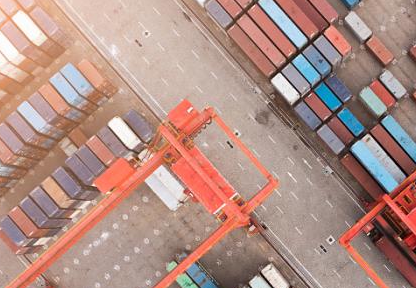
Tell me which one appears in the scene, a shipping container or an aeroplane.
shipping container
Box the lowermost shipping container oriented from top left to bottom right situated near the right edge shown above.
[374,237,416,288]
